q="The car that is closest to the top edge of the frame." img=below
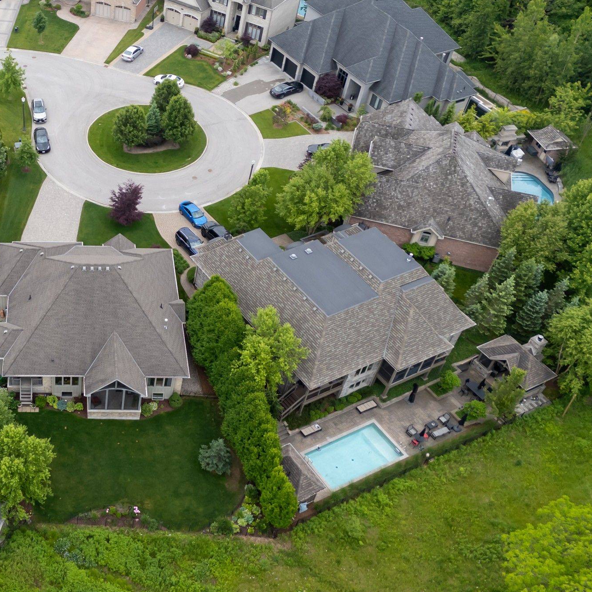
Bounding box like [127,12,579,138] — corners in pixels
[122,42,148,60]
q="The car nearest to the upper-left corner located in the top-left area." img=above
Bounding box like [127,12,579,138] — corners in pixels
[32,94,47,120]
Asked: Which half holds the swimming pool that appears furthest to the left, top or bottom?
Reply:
bottom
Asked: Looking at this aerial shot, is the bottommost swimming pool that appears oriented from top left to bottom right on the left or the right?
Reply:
right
